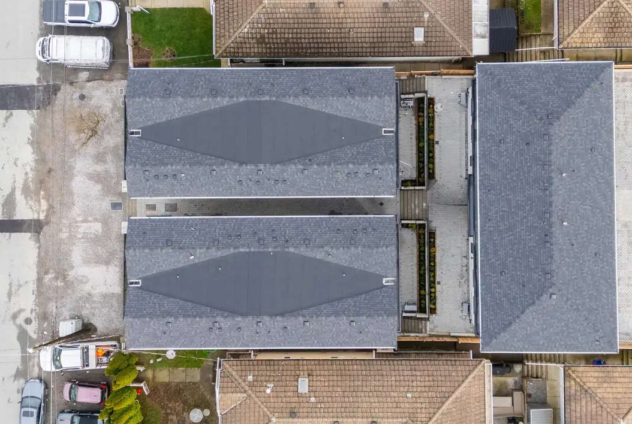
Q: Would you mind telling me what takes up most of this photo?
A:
buildings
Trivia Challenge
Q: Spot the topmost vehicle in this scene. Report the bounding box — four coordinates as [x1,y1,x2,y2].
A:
[43,0,119,27]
